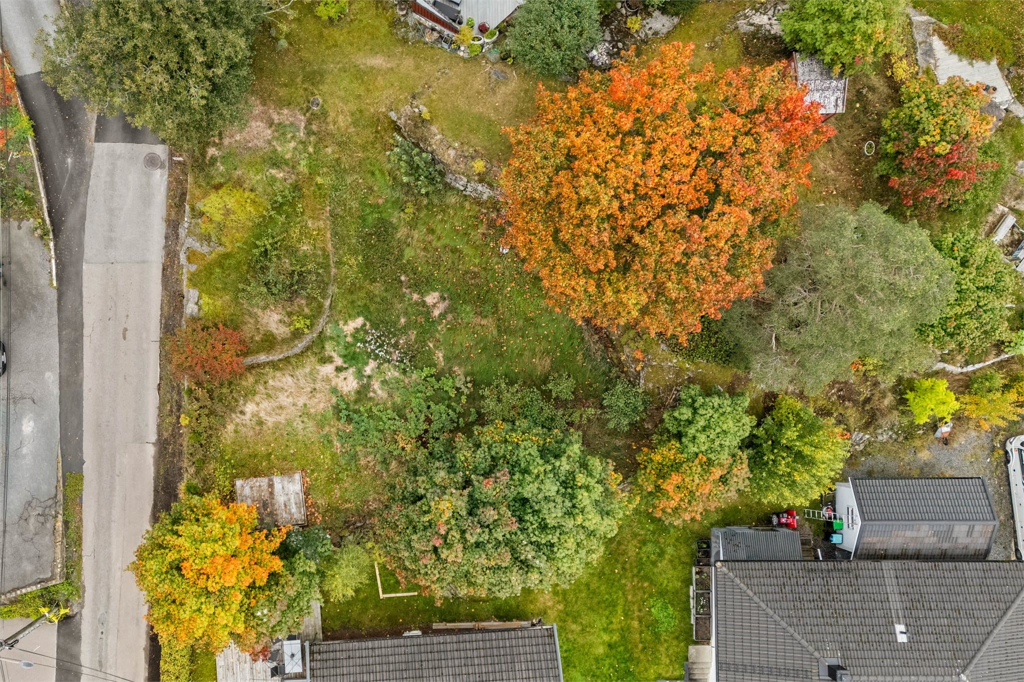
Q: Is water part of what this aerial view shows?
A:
No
